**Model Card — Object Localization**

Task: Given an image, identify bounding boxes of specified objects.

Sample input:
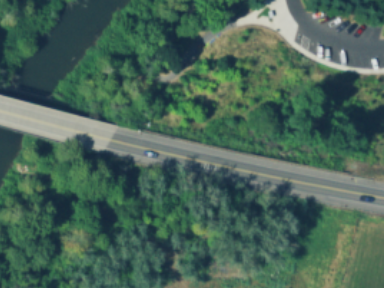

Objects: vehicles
[329,18,342,28]
[341,51,346,64]
[362,196,373,202]
[372,59,378,69]
[356,26,365,36]
[313,14,324,20]
[348,24,358,34]
[326,48,330,60]
[317,46,323,58]
[146,152,157,158]
[338,22,348,32]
